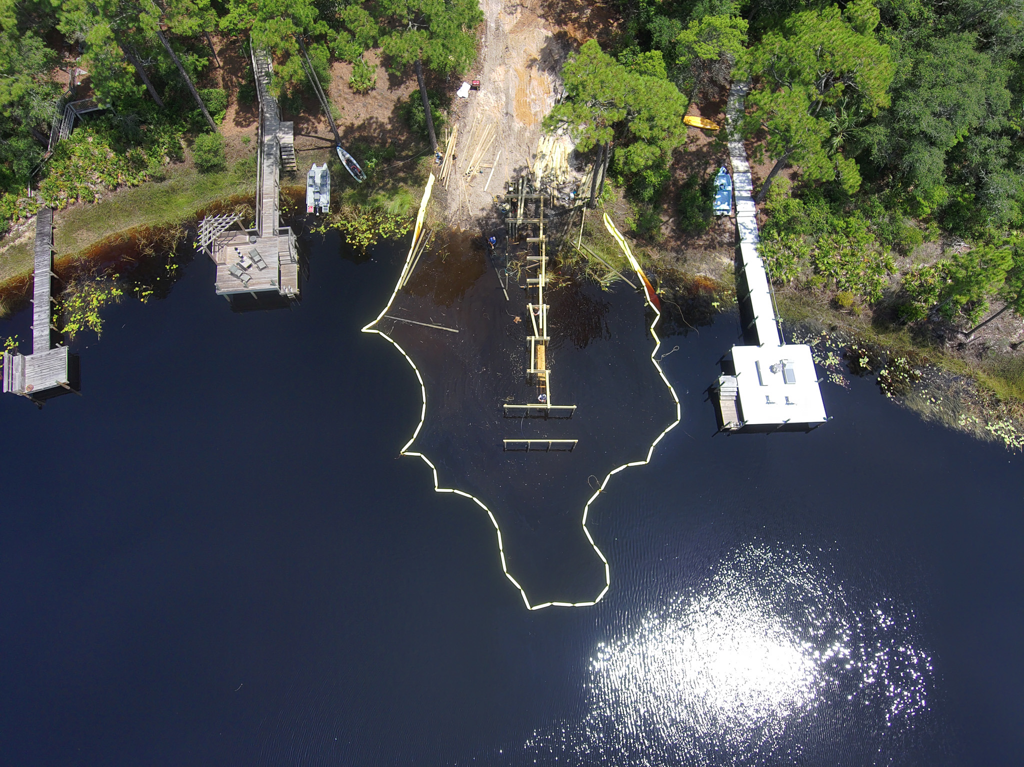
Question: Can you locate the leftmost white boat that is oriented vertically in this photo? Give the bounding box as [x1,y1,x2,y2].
[305,160,330,215]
